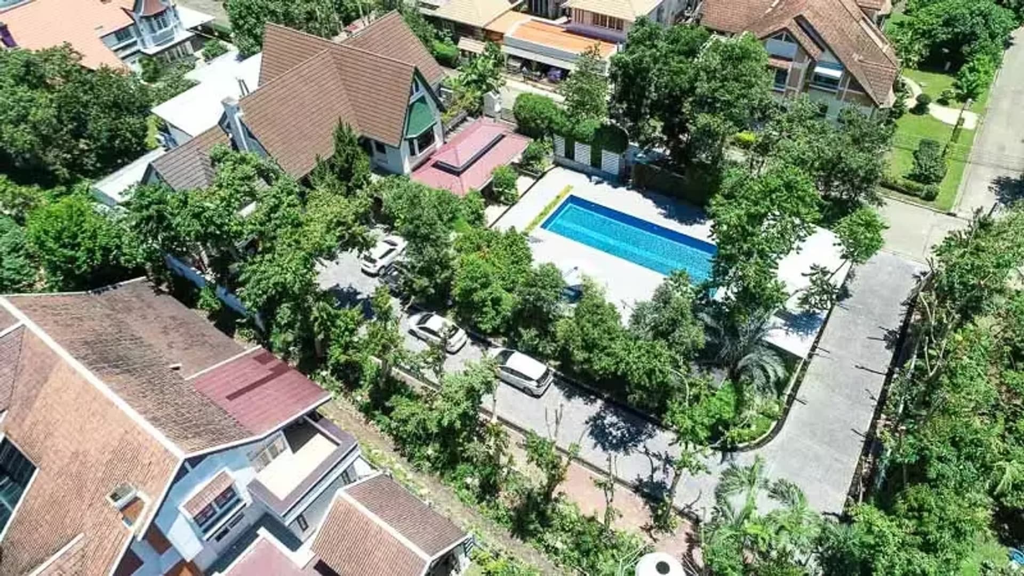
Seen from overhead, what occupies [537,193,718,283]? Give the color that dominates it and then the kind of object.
blue swimming pool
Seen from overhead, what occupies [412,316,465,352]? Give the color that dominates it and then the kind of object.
white car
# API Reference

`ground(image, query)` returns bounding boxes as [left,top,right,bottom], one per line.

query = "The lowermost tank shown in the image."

[631,549,685,576]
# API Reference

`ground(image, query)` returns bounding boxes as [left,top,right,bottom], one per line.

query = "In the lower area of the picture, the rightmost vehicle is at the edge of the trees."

[495,356,554,394]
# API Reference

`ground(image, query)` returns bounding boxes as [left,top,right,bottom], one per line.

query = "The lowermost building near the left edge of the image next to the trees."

[0,273,398,576]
